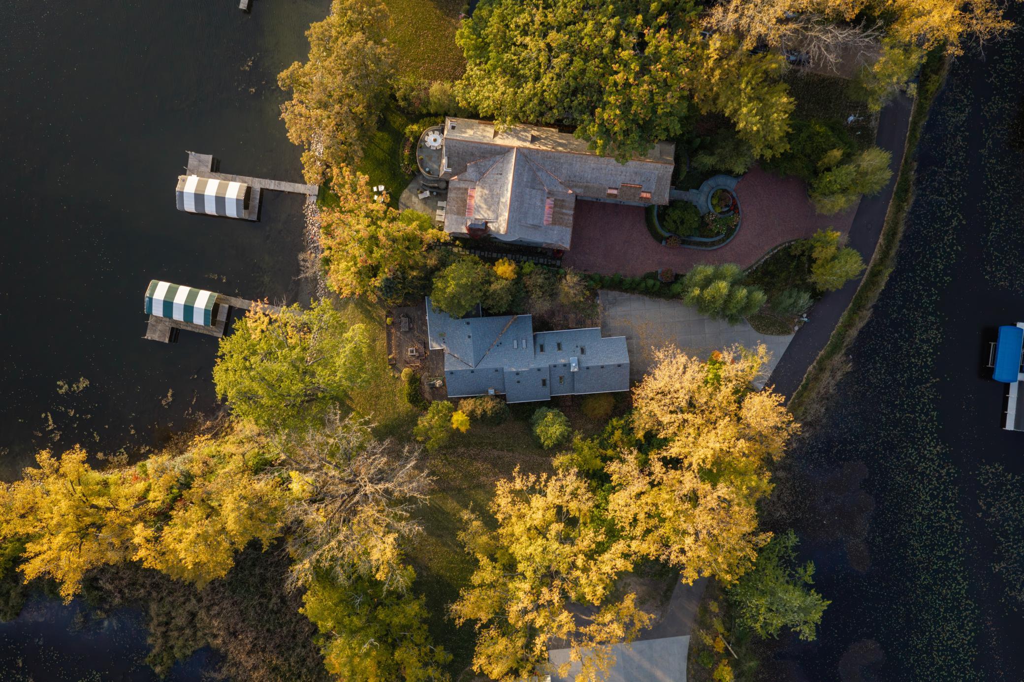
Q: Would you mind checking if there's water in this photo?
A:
Yes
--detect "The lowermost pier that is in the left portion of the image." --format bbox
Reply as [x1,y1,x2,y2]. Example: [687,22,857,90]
[141,294,305,343]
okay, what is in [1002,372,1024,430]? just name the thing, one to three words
pier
